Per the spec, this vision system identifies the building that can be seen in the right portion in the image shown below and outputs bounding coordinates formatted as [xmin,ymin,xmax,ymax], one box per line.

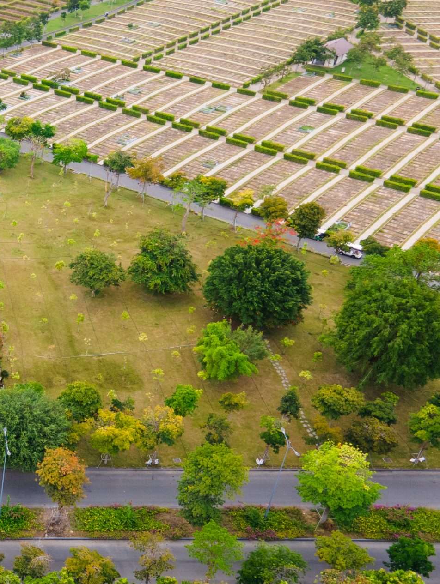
[315,40,363,73]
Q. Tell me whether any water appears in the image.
No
